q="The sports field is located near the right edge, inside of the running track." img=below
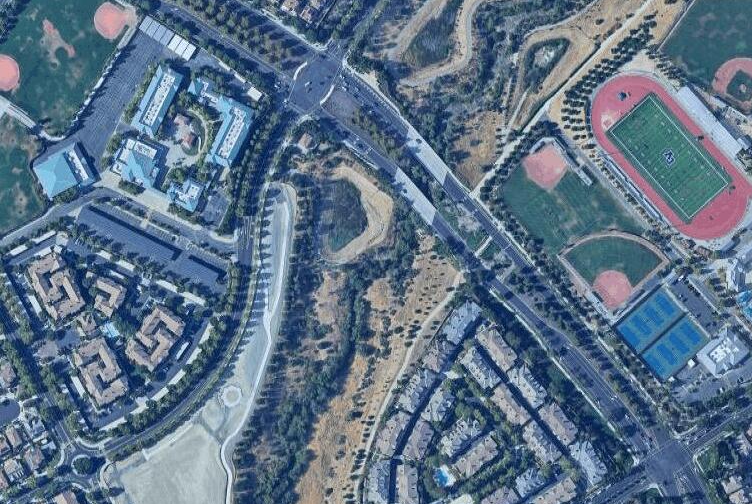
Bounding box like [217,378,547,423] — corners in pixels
[607,93,732,223]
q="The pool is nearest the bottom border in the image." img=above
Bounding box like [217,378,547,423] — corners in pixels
[433,465,455,487]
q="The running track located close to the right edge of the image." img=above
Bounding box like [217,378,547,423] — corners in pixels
[592,76,752,239]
